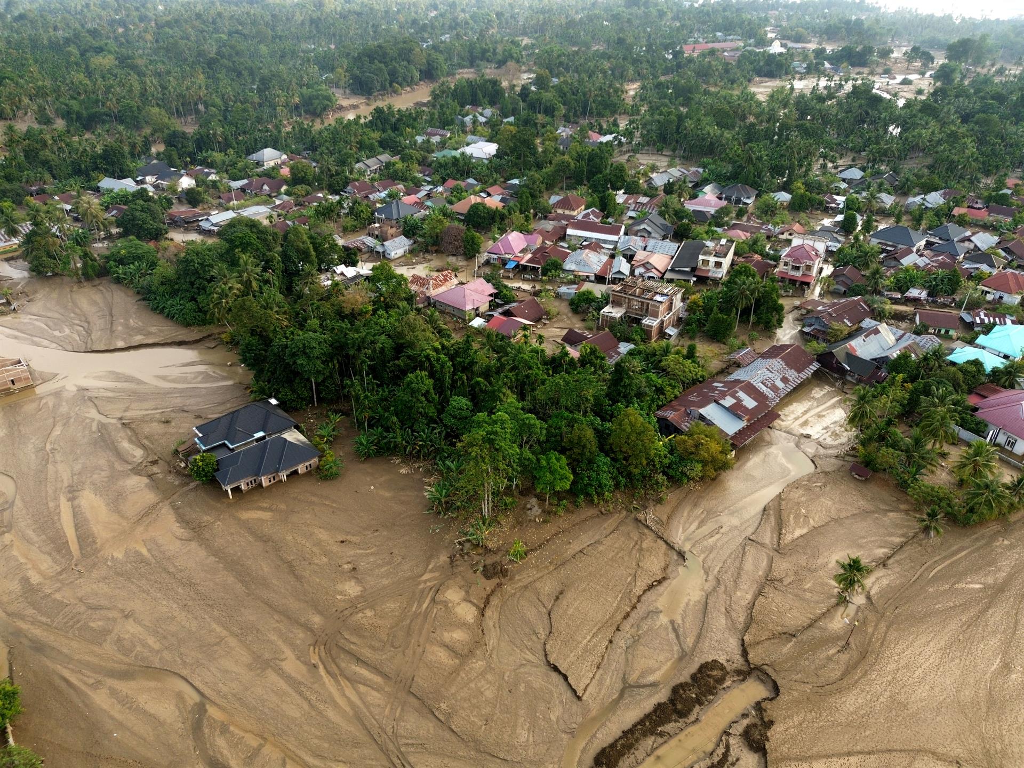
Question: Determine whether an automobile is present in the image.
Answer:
No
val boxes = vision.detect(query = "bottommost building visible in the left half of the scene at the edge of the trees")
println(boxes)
[194,399,318,505]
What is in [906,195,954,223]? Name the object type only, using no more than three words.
house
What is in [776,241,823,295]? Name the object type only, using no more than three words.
house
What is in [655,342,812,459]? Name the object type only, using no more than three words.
barn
